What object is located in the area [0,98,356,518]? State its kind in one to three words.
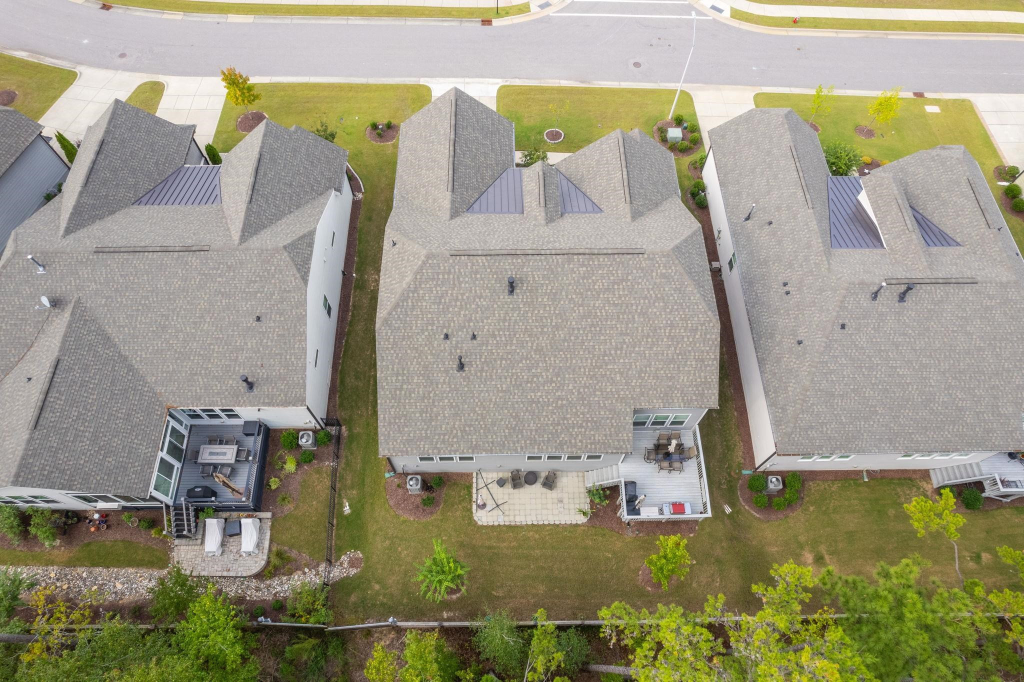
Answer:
house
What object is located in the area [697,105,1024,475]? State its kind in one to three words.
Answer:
house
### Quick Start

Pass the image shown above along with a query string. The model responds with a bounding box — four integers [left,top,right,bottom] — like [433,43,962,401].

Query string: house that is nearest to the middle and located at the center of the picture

[374,87,714,479]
